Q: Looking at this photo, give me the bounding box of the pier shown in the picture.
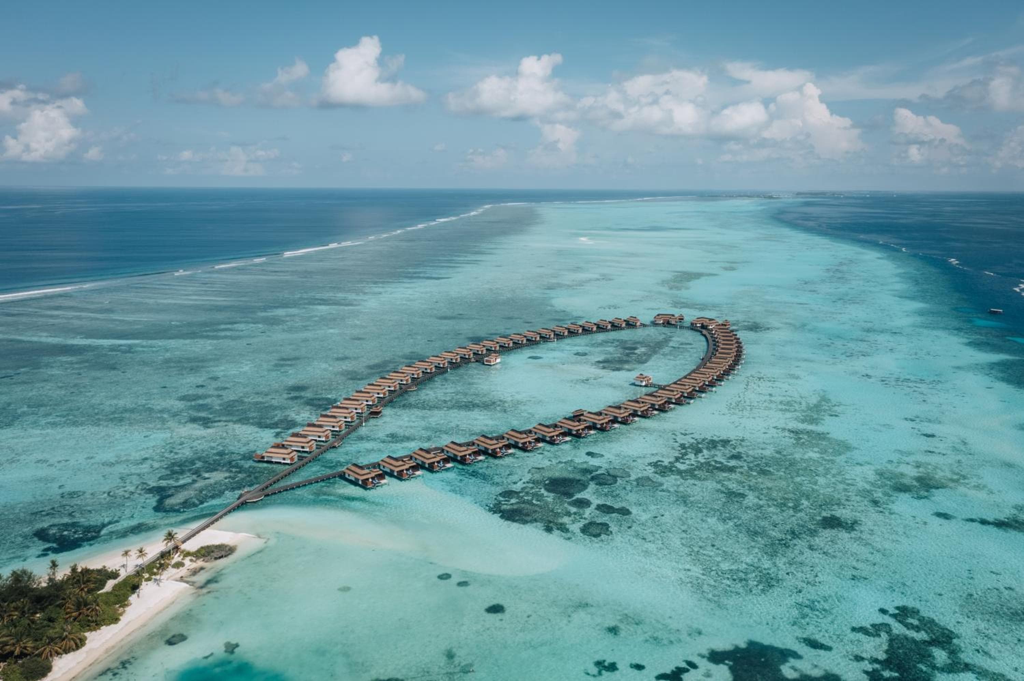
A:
[110,325,714,584]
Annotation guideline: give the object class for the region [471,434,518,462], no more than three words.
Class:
house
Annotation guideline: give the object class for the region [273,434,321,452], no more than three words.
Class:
house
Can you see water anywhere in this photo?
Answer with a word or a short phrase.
Yes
